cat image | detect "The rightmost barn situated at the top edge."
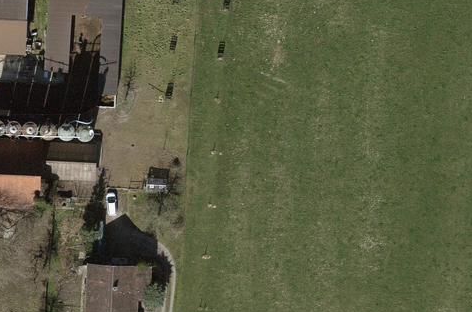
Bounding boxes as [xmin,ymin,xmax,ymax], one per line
[44,0,124,96]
